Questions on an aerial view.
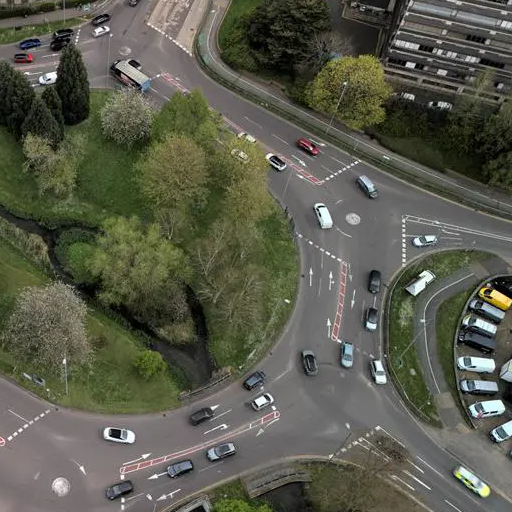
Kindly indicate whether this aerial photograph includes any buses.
Yes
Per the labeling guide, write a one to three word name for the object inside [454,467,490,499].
car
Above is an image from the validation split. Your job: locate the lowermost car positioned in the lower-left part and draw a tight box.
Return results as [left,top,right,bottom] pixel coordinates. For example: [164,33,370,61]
[104,480,137,501]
